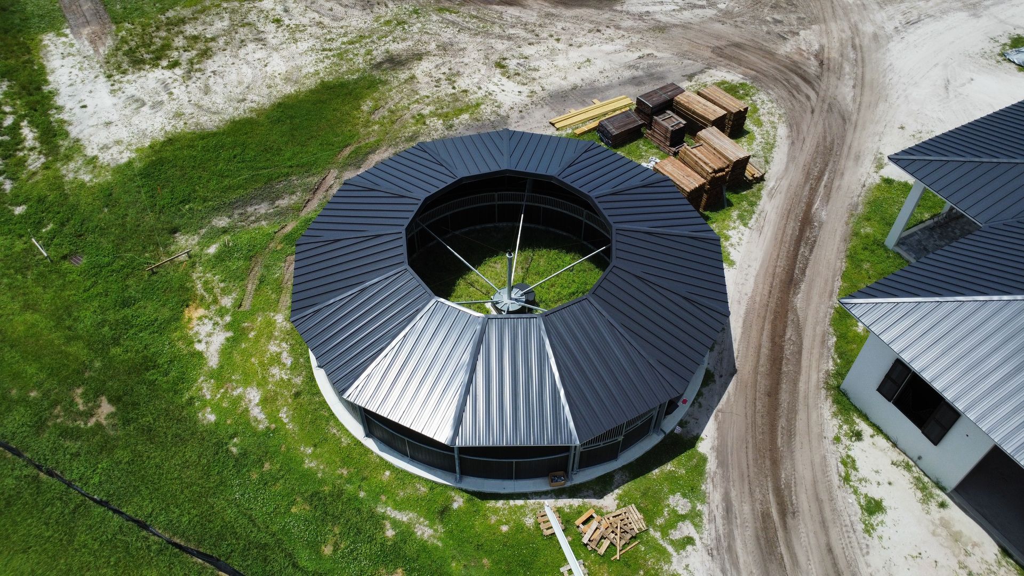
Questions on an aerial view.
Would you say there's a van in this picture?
No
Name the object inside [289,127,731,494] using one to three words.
building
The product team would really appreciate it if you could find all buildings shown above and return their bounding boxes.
[289,127,731,494]
[837,96,1024,574]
